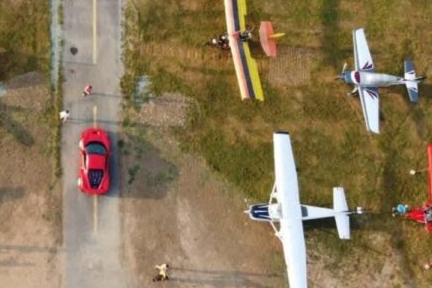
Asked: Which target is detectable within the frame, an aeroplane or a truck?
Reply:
aeroplane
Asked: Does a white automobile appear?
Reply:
No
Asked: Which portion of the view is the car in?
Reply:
left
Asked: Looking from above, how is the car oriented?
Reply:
vertically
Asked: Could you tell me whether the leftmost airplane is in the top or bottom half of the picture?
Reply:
top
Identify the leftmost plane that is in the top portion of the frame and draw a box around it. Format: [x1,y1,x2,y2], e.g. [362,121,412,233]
[202,0,289,99]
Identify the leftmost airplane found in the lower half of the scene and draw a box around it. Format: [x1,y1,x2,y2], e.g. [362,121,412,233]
[243,132,369,288]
